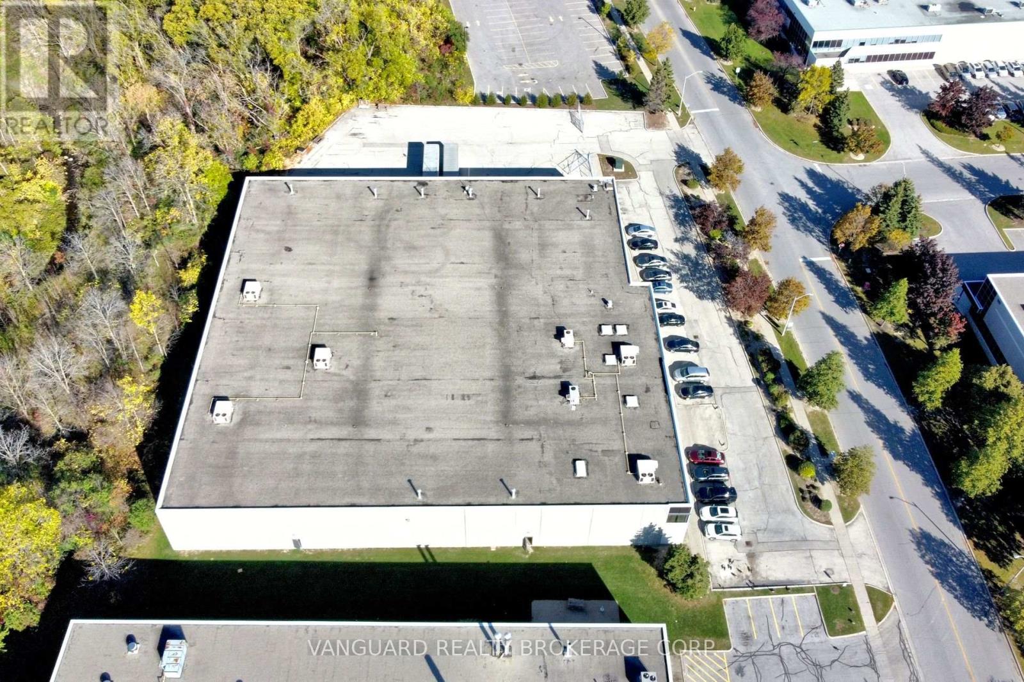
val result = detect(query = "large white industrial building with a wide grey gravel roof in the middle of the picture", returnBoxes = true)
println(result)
[155,177,694,554]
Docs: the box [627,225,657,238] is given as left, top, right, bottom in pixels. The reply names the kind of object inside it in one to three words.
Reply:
vehicle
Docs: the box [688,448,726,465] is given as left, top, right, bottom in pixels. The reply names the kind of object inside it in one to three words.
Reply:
car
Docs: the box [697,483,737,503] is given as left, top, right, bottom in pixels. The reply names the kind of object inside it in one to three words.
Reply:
car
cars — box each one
[889,69,908,84]
[635,253,666,268]
[954,62,972,78]
[658,311,688,328]
[936,63,955,80]
[644,281,676,295]
[1005,58,1024,75]
[968,62,986,77]
[656,299,680,313]
[688,448,726,465]
[692,464,731,483]
[699,503,739,523]
[704,521,743,541]
[992,60,1010,75]
[697,483,737,503]
[627,225,657,238]
[981,61,998,76]
[629,237,658,251]
[678,383,714,399]
[642,268,673,282]
[665,338,699,354]
[673,365,709,382]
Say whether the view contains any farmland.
No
